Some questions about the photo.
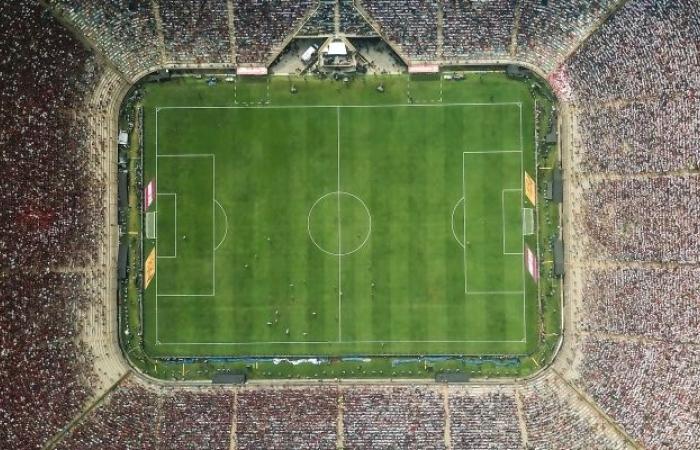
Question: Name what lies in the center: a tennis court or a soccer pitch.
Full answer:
It is a soccer pitch that can be seen in the center.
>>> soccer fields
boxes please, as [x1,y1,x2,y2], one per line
[153,77,528,350]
